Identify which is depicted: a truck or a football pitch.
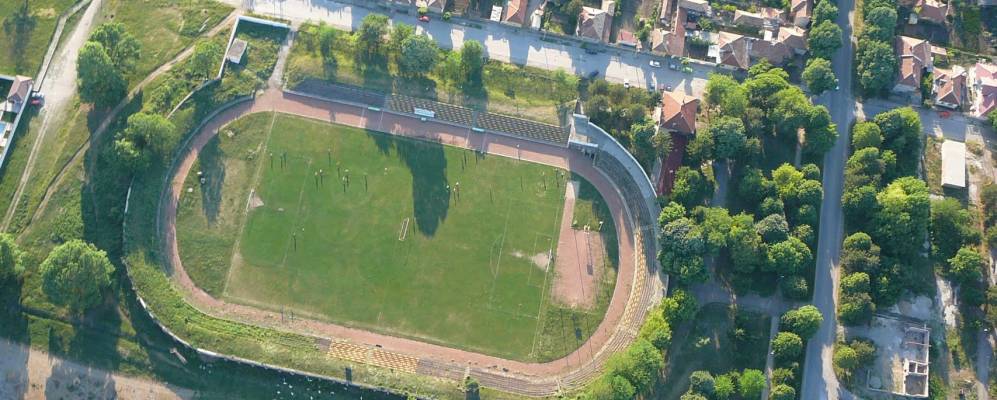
football pitch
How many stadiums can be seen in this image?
one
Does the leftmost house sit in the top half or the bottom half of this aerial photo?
top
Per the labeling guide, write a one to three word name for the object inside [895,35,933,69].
house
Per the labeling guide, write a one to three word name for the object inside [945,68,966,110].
house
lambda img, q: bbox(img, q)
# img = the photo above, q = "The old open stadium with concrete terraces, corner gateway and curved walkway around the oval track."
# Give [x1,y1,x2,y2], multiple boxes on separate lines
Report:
[283,77,667,397]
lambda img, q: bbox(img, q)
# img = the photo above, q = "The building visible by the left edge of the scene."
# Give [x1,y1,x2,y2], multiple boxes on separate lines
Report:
[7,75,34,105]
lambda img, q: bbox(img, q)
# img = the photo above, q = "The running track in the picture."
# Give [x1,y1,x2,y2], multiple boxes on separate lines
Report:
[156,91,629,381]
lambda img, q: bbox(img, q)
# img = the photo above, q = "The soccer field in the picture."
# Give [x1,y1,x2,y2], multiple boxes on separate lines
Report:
[222,112,567,358]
